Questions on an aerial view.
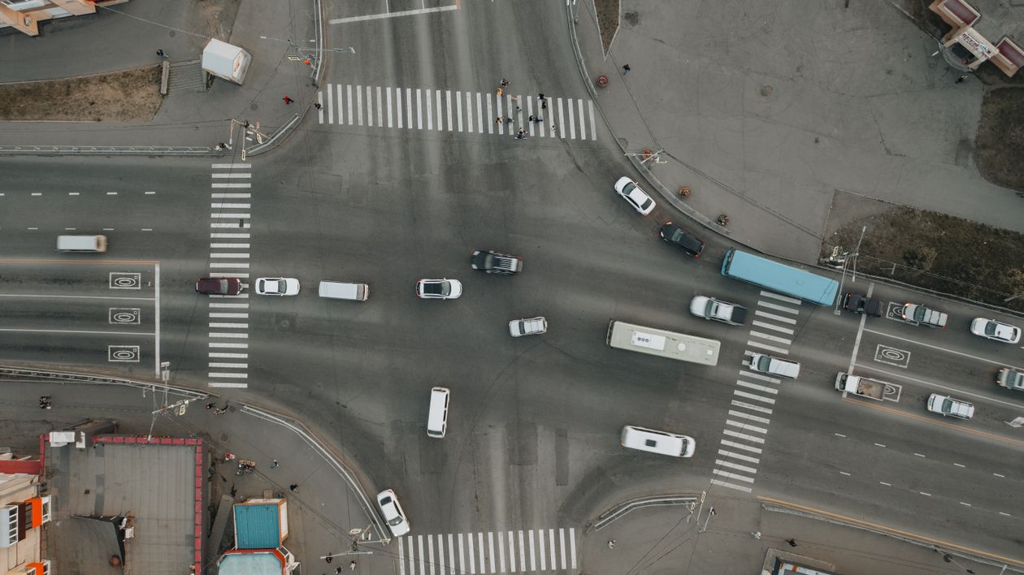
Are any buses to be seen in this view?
Yes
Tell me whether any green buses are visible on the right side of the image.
No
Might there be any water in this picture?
No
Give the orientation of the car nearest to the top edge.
on a diagonal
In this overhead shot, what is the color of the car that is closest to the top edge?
white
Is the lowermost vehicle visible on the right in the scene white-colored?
Yes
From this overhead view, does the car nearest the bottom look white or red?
white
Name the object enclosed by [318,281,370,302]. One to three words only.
vehicle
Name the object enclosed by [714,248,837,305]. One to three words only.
bus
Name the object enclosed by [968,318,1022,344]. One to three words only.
car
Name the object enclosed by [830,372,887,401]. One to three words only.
truck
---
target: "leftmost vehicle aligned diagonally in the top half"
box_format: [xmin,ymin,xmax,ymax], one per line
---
[613,174,658,218]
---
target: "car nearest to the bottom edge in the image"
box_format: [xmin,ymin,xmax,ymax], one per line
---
[377,487,409,536]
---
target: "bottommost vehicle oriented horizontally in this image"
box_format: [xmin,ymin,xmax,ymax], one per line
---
[618,423,696,458]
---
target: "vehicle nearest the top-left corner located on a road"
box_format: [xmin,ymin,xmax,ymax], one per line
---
[54,233,110,253]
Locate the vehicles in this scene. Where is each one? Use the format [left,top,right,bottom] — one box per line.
[688,299,749,325]
[745,352,802,379]
[255,276,301,297]
[54,233,110,253]
[618,423,696,458]
[193,276,243,297]
[714,248,837,305]
[377,487,409,536]
[426,385,450,438]
[508,317,548,337]
[470,251,523,274]
[613,174,658,218]
[416,278,463,299]
[604,319,720,365]
[924,395,977,420]
[830,372,887,401]
[994,369,1024,391]
[841,294,886,317]
[318,281,370,302]
[900,305,950,329]
[968,318,1022,344]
